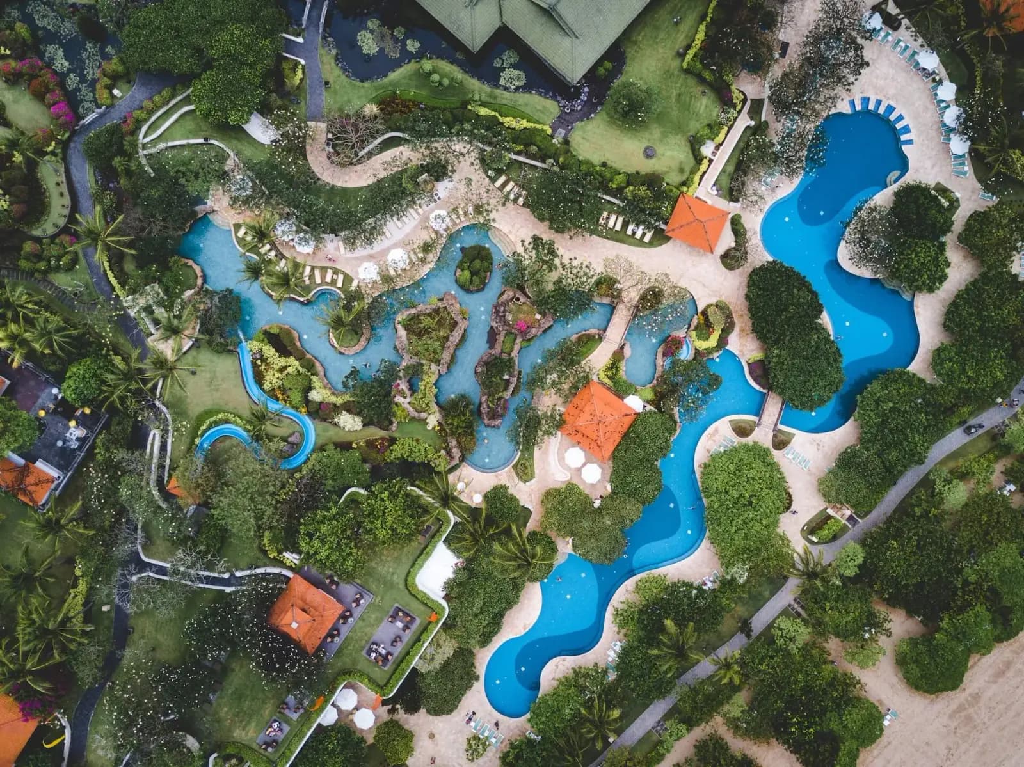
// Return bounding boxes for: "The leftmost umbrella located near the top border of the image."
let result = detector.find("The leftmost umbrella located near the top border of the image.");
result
[864,10,883,30]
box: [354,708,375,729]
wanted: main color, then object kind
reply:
white umbrella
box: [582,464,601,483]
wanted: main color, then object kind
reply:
white umbrella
